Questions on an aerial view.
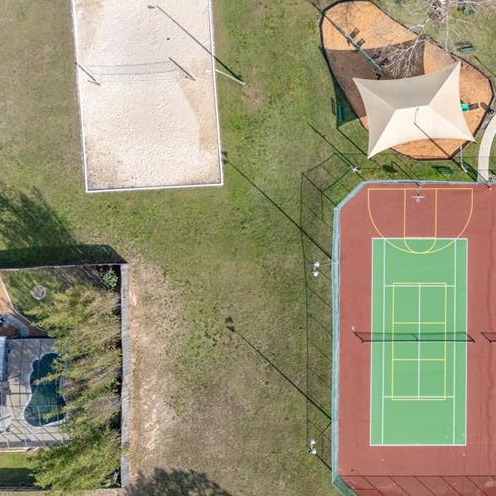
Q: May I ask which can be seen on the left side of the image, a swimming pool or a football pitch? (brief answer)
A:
swimming pool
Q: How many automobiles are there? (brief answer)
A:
0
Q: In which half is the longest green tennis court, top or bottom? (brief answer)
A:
bottom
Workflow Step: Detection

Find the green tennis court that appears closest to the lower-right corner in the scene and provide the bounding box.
[371,239,467,446]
